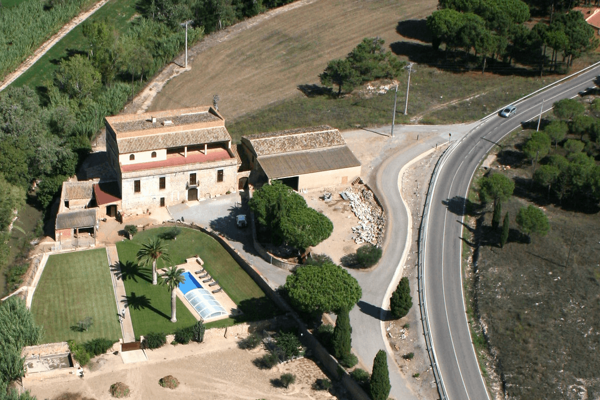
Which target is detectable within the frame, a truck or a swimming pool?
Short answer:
swimming pool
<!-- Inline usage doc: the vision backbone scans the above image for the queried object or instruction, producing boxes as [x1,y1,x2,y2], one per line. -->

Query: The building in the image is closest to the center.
[237,124,363,187]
